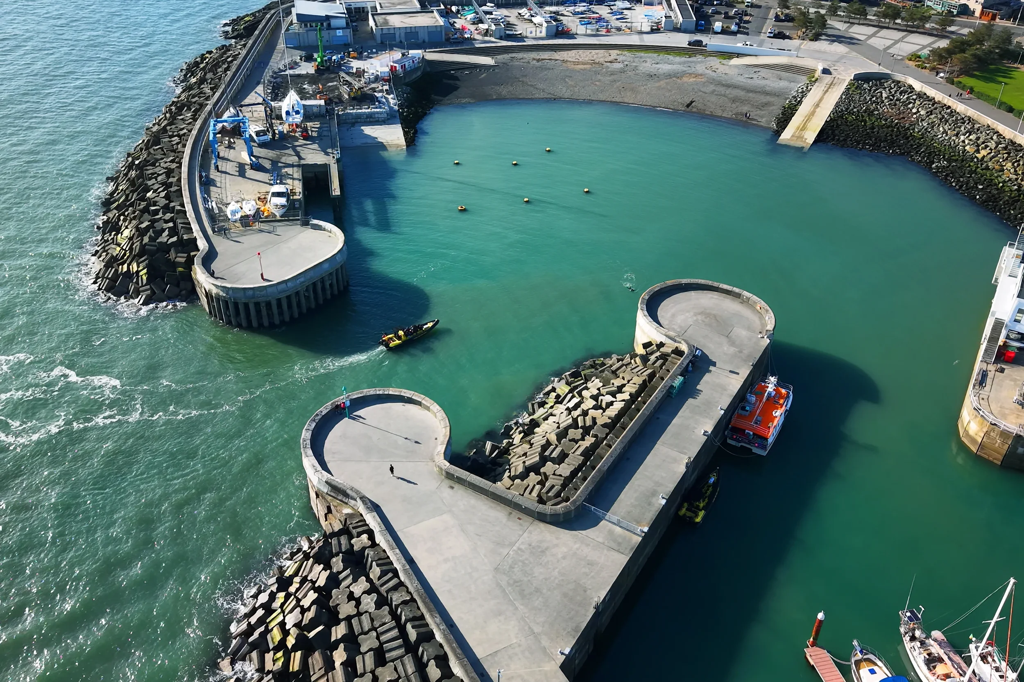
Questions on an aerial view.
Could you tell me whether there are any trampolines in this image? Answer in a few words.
No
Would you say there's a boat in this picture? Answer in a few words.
Yes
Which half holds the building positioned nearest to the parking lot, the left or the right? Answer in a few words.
right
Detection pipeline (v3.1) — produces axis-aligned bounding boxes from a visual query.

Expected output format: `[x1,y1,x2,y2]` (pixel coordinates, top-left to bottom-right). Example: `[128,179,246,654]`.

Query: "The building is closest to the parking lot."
[667,0,698,32]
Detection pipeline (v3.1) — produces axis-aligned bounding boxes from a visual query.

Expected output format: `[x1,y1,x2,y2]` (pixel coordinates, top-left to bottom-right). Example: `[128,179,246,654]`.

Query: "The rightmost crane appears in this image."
[308,15,331,71]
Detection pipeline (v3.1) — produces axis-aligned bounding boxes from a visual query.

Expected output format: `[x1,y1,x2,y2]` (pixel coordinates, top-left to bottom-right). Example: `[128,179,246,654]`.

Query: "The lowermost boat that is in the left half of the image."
[375,314,440,350]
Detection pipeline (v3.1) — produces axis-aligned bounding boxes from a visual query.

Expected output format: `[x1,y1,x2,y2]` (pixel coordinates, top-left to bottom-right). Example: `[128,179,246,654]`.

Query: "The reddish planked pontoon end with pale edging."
[802,647,843,682]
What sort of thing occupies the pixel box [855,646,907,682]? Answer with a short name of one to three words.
boat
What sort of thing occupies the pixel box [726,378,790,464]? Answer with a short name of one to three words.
boat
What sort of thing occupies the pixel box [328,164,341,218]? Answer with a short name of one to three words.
pier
